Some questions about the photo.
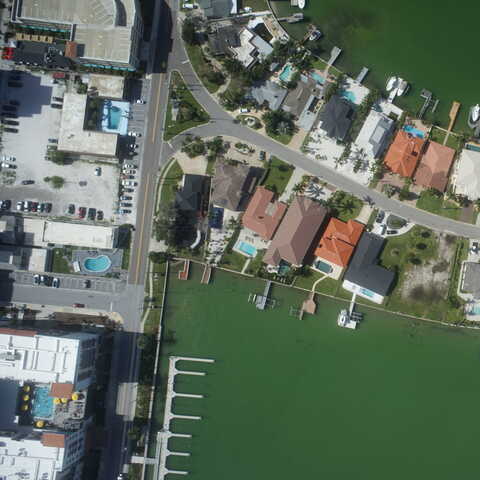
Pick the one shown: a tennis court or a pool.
pool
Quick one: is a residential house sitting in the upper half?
Yes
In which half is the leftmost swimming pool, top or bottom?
bottom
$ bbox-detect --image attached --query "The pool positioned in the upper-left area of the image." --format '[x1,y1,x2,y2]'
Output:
[107,106,125,129]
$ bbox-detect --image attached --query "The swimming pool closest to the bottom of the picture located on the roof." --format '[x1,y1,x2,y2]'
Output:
[31,384,54,424]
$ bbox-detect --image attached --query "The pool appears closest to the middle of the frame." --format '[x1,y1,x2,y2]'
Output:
[239,239,258,256]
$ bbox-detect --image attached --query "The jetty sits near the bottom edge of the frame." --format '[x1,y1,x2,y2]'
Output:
[130,352,216,480]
